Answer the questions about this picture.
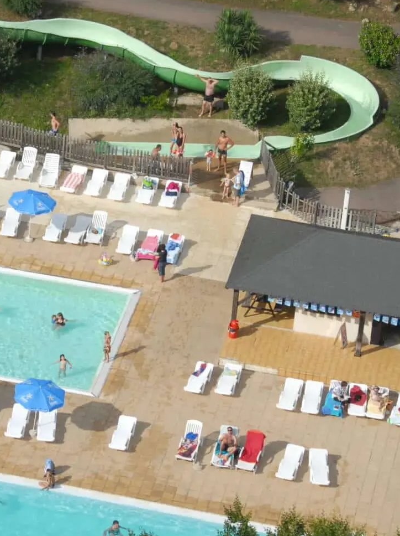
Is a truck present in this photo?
No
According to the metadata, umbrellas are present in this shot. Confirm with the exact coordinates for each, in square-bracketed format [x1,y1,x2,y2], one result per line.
[9,193,53,243]
[14,383,64,438]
